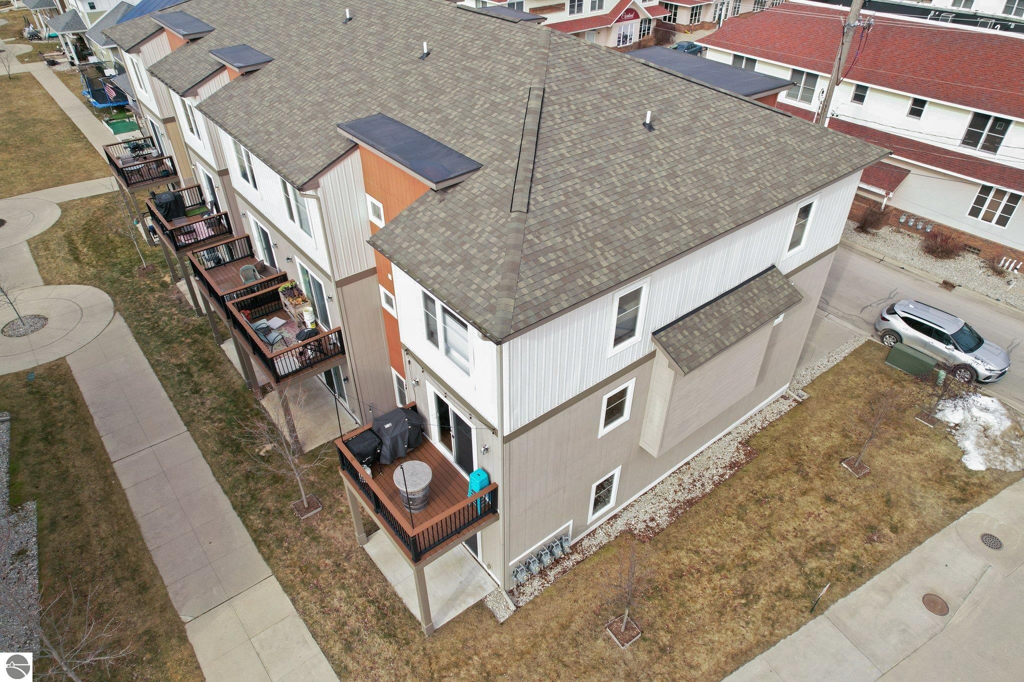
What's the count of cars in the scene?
2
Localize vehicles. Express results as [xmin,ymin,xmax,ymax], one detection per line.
[672,33,708,55]
[872,295,1019,386]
